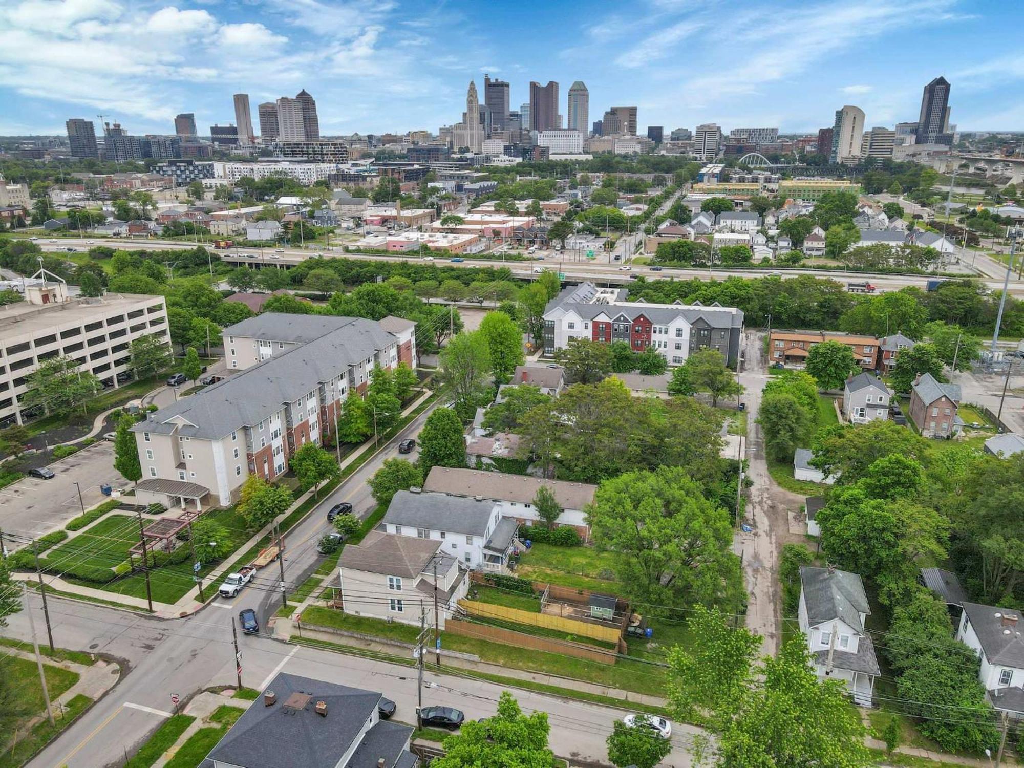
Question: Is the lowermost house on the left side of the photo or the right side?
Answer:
left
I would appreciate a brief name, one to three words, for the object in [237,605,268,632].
car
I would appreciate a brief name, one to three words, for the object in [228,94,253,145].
building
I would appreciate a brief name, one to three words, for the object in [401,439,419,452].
vehicle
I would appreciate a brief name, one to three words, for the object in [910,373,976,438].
house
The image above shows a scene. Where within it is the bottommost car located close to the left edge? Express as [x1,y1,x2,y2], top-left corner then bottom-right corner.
[32,465,51,478]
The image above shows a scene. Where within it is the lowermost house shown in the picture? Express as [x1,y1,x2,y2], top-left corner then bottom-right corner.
[199,676,420,768]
